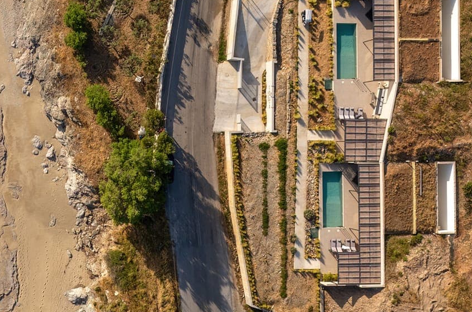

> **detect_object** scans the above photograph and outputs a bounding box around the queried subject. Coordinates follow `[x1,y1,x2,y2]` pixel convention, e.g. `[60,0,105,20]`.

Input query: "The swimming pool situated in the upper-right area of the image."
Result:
[336,22,358,83]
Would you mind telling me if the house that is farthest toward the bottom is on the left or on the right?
right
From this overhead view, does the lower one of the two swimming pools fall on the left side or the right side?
right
